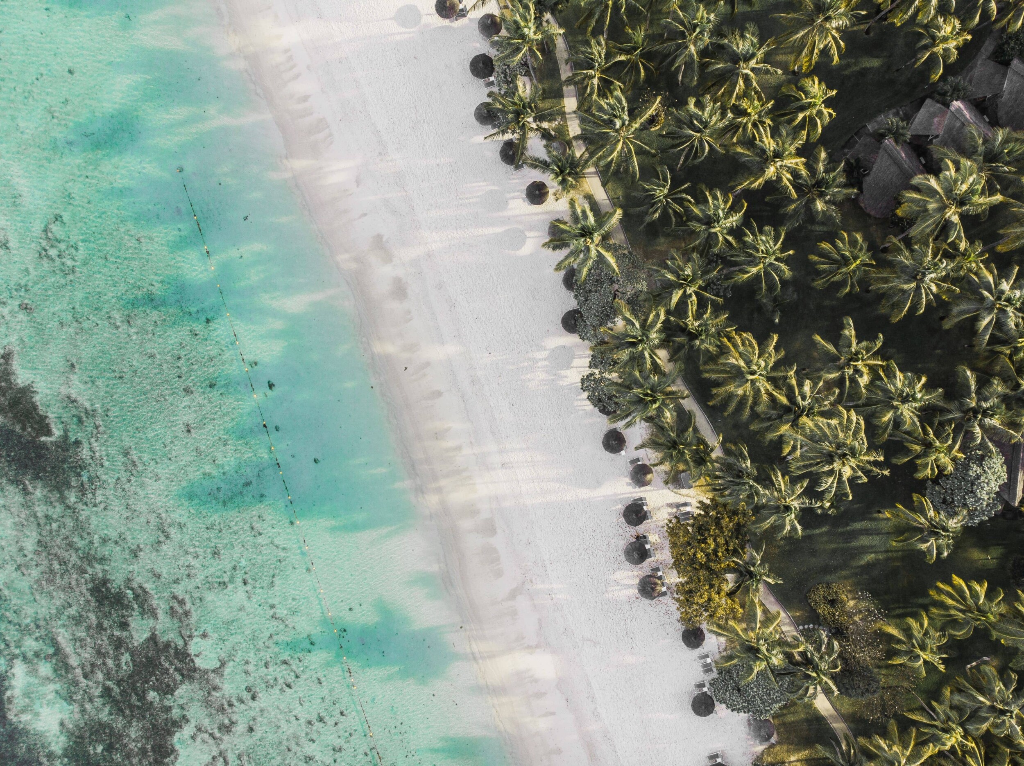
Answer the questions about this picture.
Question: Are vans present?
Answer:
No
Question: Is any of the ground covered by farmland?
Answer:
No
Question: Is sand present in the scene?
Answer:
Yes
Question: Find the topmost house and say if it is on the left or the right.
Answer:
right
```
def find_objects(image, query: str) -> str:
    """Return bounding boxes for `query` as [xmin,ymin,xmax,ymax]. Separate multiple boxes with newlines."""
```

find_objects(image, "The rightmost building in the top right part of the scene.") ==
[961,59,1024,133]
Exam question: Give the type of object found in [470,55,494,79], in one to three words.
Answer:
umbrella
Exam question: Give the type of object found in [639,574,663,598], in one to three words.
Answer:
umbrella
